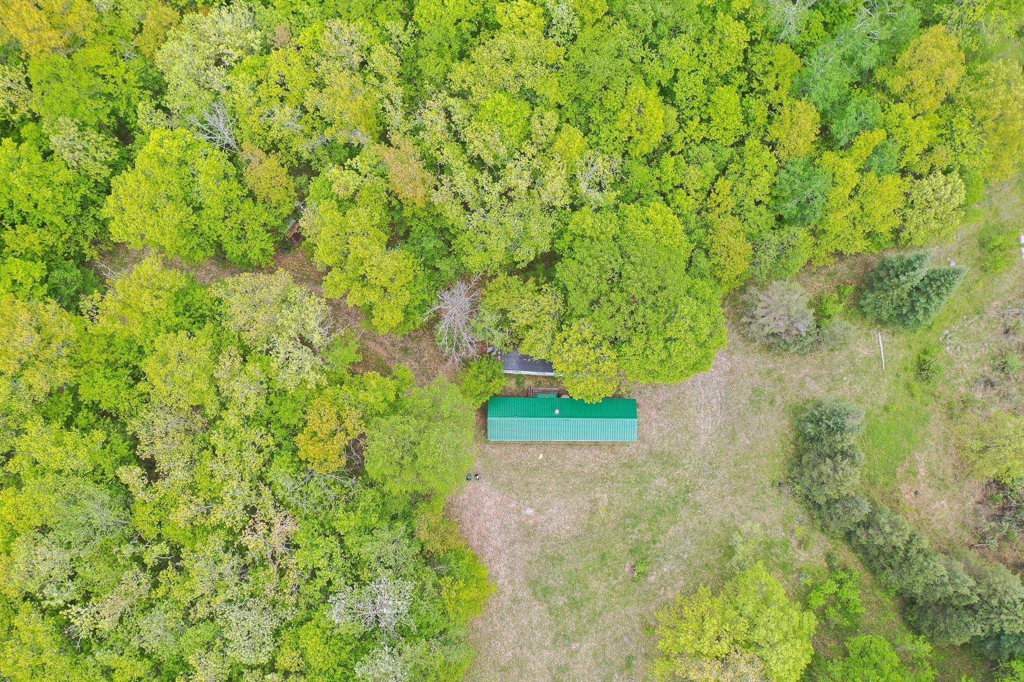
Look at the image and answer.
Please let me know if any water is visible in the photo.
No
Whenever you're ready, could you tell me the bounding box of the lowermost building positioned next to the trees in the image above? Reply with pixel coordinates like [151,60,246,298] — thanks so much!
[487,394,638,442]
